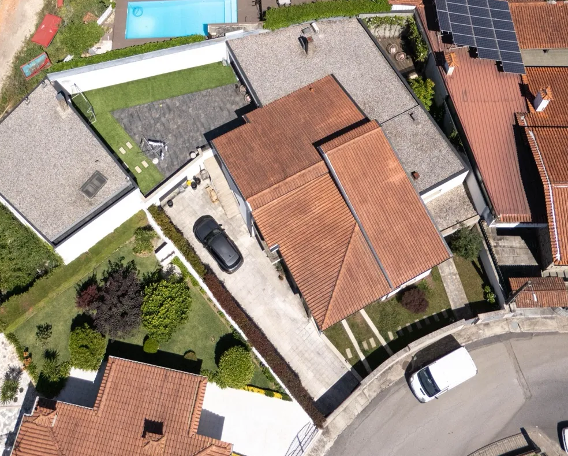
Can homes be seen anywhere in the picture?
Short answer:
Yes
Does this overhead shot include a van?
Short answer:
Yes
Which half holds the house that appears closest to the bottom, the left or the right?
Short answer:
left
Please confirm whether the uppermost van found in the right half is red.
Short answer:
No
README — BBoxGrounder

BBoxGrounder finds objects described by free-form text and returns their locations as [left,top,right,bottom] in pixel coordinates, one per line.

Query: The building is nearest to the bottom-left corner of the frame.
[12,355,232,456]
